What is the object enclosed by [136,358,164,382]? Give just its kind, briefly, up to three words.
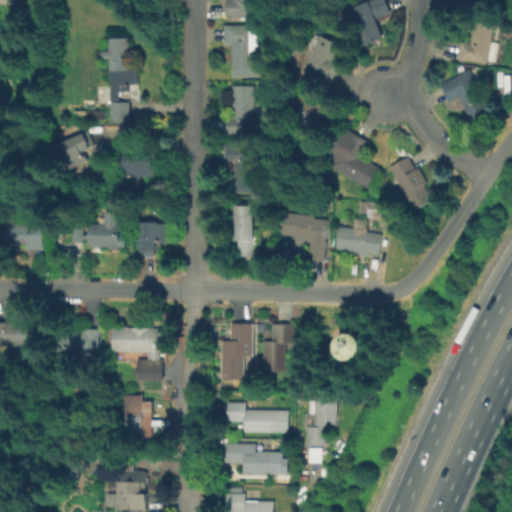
house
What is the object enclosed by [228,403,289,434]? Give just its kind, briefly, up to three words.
house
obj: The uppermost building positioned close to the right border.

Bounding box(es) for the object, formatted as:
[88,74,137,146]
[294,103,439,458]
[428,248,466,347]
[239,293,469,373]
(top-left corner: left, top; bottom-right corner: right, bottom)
[456,25,492,62]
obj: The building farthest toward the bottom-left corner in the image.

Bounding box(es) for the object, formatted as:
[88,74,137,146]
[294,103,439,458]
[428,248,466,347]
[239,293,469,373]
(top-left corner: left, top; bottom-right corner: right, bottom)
[106,470,149,512]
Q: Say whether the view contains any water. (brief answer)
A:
No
